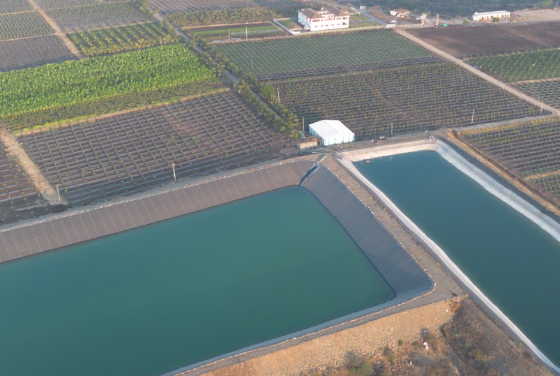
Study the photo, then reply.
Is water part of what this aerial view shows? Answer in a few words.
Yes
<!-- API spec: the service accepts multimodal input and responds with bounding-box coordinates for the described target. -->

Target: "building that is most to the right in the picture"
[467,9,512,22]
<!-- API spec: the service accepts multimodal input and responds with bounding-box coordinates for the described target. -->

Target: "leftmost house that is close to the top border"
[299,2,351,31]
